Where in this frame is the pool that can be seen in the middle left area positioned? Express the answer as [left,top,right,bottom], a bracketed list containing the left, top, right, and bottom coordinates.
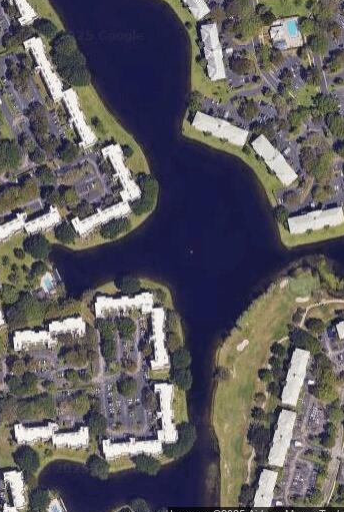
[40,272,56,293]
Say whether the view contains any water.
Yes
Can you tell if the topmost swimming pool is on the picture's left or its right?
right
